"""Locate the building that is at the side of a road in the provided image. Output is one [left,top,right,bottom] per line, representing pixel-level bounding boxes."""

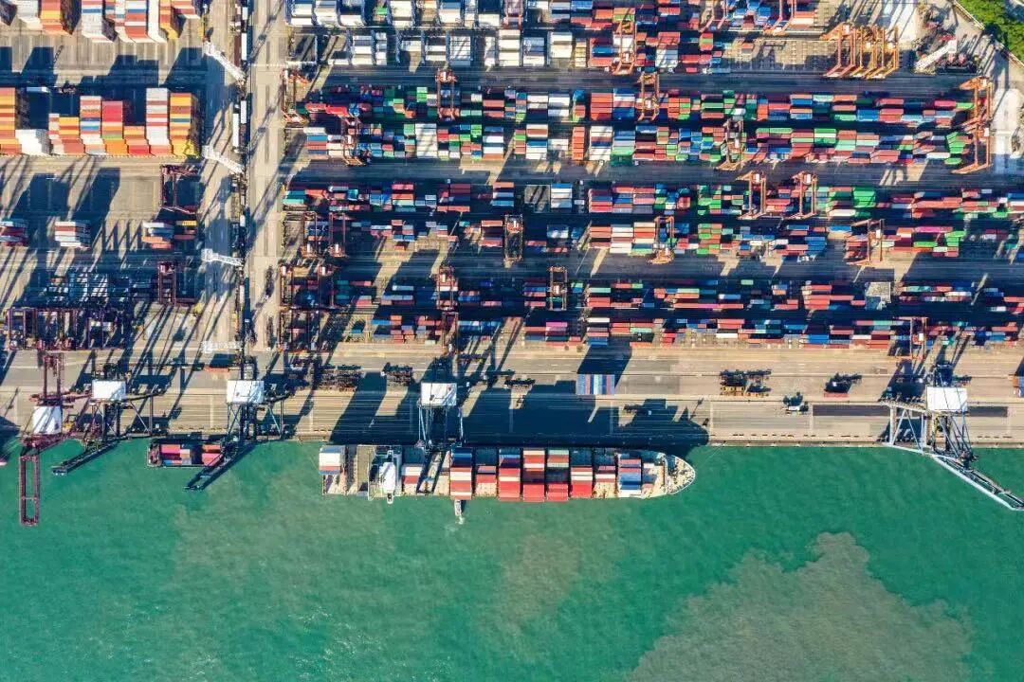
[861,284,889,309]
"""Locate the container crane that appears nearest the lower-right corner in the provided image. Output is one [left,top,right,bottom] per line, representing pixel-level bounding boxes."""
[868,368,1024,504]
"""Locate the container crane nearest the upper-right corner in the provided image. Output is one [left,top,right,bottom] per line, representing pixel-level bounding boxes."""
[950,76,991,132]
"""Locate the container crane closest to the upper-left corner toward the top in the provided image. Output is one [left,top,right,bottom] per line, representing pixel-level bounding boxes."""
[160,164,195,217]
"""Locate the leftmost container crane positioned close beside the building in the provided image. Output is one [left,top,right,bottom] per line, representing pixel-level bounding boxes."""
[849,216,885,271]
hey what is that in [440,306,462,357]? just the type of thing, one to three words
container crane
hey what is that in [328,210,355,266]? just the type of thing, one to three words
container crane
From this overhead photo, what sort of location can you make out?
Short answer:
port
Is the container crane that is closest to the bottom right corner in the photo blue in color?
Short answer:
No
